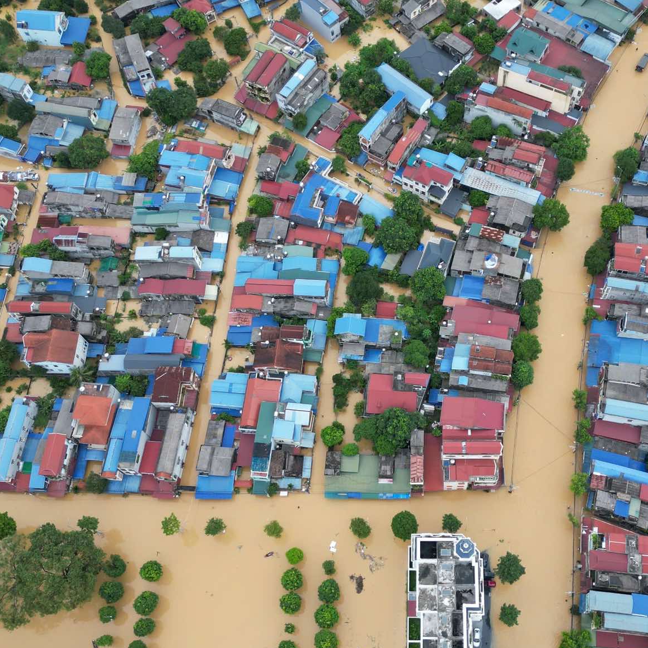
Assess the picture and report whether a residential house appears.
Yes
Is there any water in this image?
Yes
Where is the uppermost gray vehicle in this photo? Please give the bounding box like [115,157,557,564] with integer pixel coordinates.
[632,53,648,77]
